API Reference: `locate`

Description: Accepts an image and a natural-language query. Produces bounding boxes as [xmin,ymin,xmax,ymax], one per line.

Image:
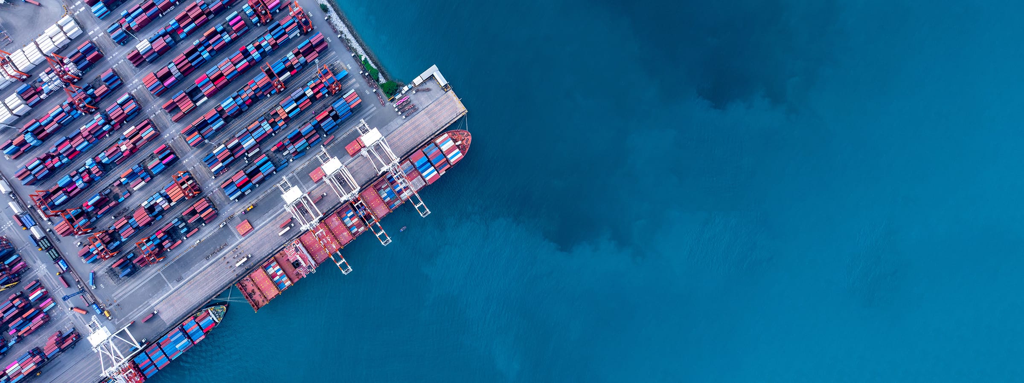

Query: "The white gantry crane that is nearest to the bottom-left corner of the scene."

[84,313,155,383]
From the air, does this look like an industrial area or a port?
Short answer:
port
